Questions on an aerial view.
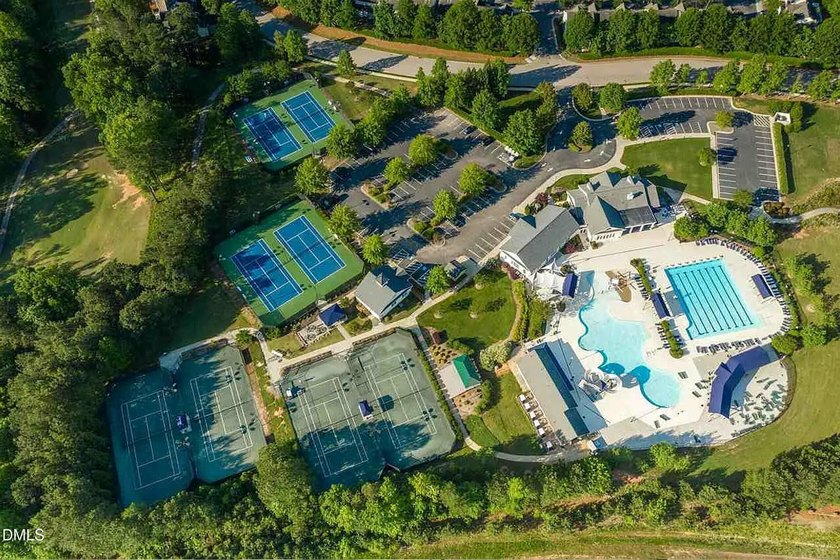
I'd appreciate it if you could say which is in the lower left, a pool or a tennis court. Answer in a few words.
tennis court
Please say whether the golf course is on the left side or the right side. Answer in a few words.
left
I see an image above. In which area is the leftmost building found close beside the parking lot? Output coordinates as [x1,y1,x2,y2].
[354,265,414,319]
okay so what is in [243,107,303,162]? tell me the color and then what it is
blue tennis court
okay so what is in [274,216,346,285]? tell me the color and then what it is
blue tennis court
